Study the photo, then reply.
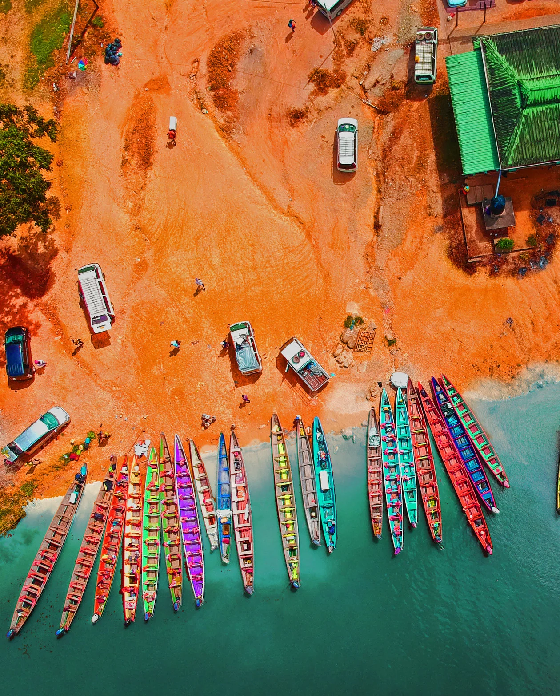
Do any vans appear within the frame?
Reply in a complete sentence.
Yes, you can see a van in this photo.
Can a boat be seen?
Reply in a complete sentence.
Yes, I can see a boat in this picture.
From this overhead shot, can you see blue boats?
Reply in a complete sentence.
Yes, there is a blue boat in the image.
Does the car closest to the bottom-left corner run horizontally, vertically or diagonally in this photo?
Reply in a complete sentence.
The car closest to the bottom-left corner is oriented diagonally.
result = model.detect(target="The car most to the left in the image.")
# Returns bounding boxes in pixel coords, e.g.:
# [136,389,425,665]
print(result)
[2,319,38,379]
